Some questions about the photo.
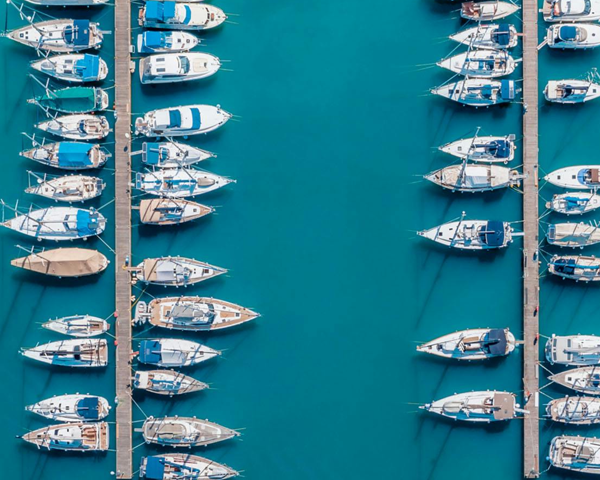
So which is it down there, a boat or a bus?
boat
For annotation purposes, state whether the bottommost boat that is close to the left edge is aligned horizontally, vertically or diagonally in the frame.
horizontally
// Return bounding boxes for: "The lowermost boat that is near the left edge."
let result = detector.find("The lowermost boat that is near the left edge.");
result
[10,421,118,453]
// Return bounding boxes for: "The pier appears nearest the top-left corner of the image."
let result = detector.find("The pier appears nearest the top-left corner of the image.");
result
[115,0,133,479]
